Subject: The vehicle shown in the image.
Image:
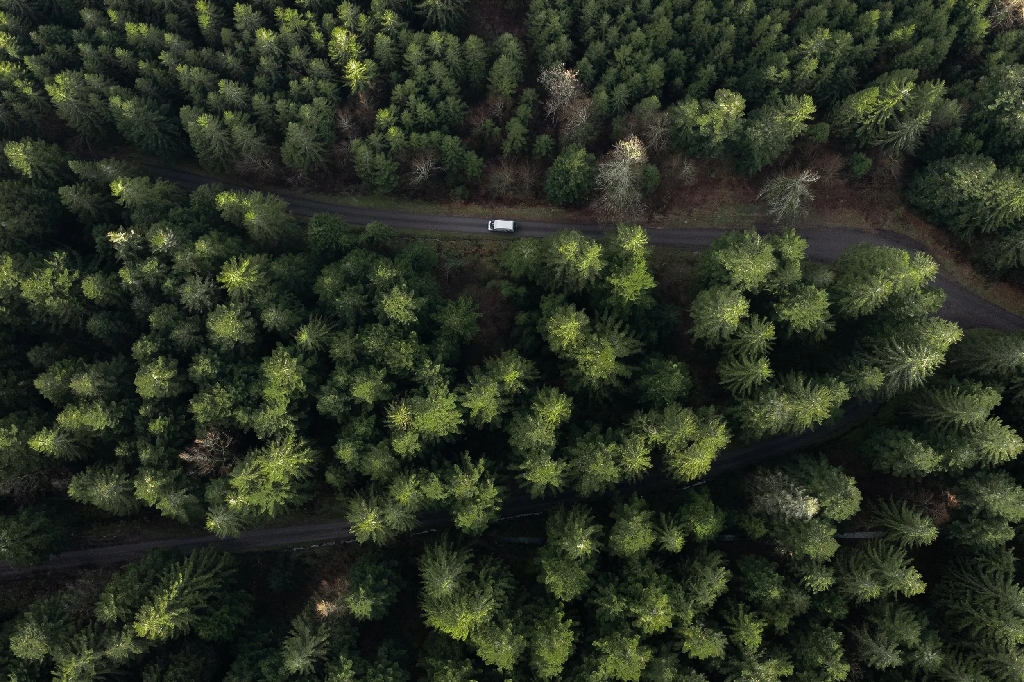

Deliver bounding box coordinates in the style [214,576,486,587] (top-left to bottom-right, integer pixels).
[488,221,520,234]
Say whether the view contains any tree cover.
Yes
